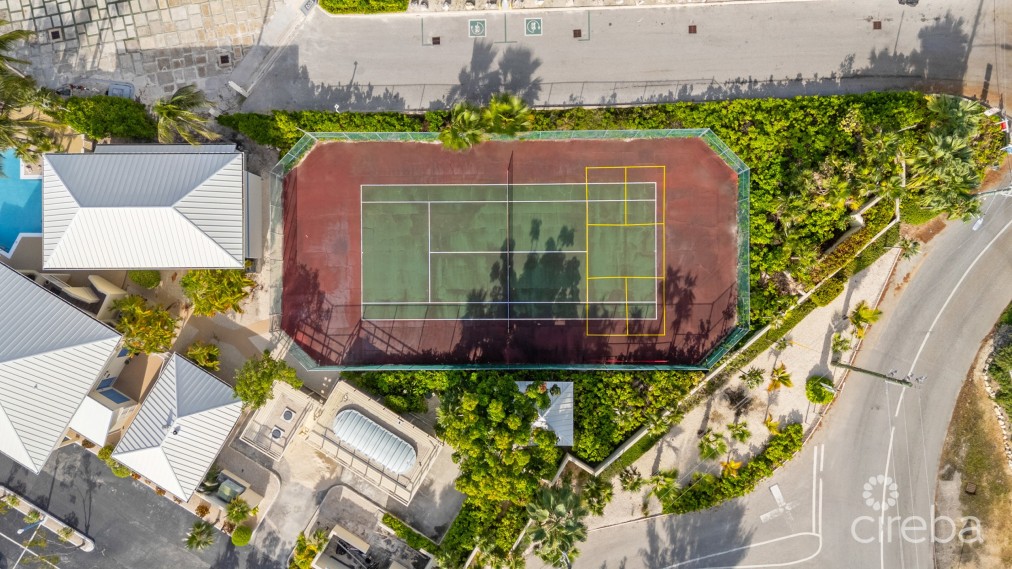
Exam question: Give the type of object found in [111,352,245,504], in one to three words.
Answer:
house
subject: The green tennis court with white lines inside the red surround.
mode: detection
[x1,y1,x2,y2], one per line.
[280,136,739,367]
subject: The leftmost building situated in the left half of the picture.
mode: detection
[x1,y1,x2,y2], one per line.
[0,253,135,474]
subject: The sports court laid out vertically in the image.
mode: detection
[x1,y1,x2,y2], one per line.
[586,166,666,335]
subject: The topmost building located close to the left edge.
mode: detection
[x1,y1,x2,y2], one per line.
[41,144,274,272]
